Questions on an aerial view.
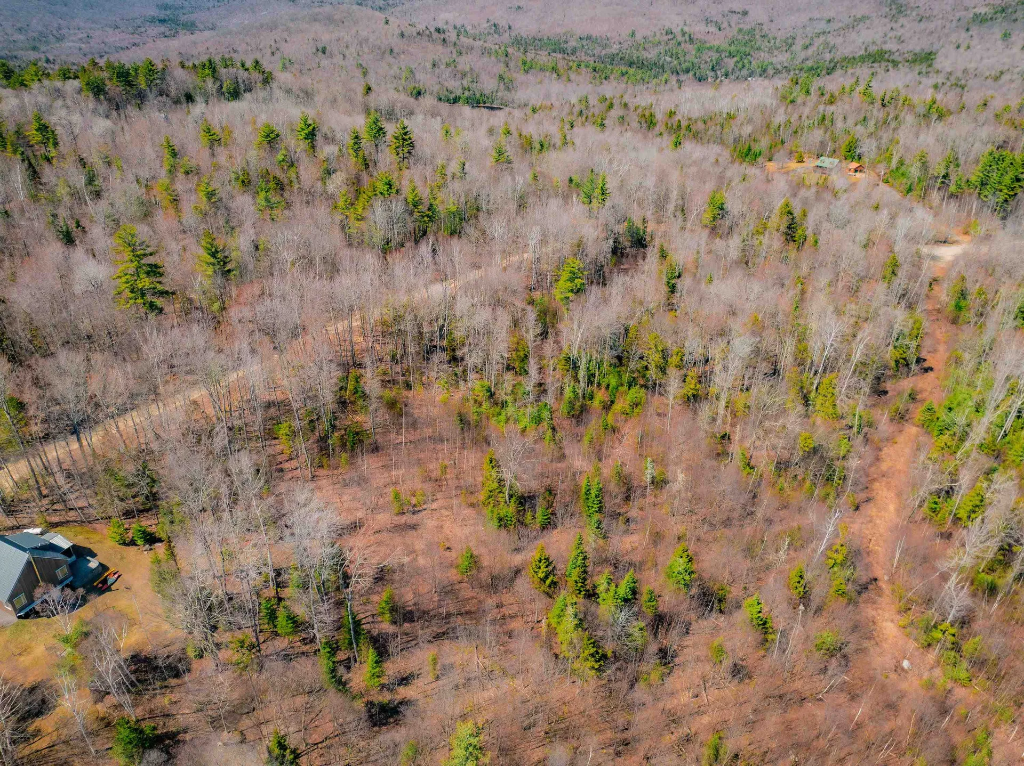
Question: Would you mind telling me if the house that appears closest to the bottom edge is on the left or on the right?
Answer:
left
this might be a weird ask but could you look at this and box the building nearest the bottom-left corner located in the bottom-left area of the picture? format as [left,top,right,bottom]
[0,525,84,628]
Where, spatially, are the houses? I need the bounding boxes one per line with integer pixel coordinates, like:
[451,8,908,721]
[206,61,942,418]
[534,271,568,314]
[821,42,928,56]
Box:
[814,157,842,174]
[0,525,84,628]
